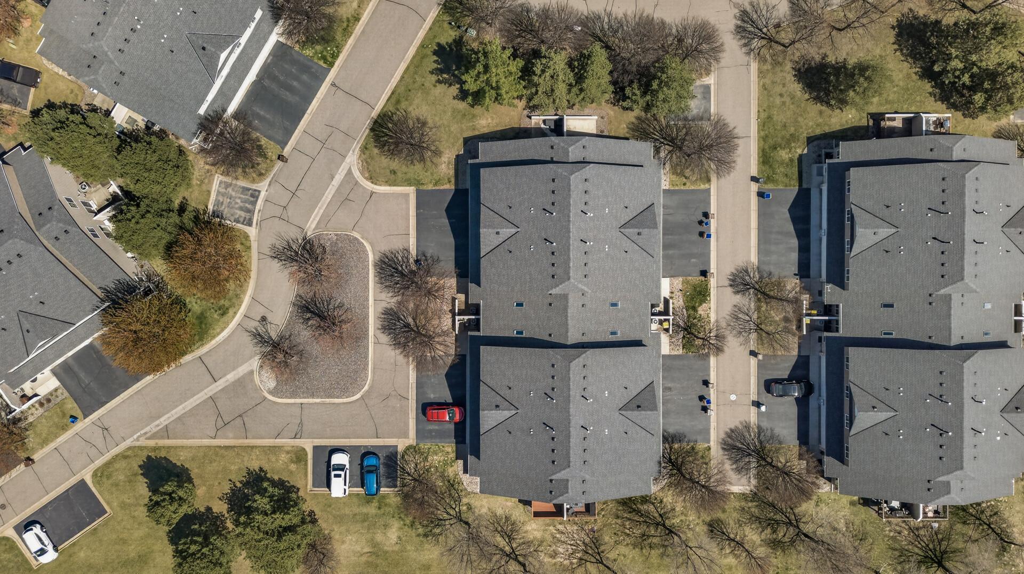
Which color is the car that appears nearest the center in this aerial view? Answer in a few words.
red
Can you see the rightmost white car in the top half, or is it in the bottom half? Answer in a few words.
bottom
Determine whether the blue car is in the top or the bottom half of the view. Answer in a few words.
bottom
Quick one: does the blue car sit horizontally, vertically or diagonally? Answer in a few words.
vertically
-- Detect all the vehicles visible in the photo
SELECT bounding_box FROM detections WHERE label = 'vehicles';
[23,520,58,562]
[423,405,466,426]
[768,379,812,401]
[0,65,40,92]
[361,452,381,495]
[329,451,351,496]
